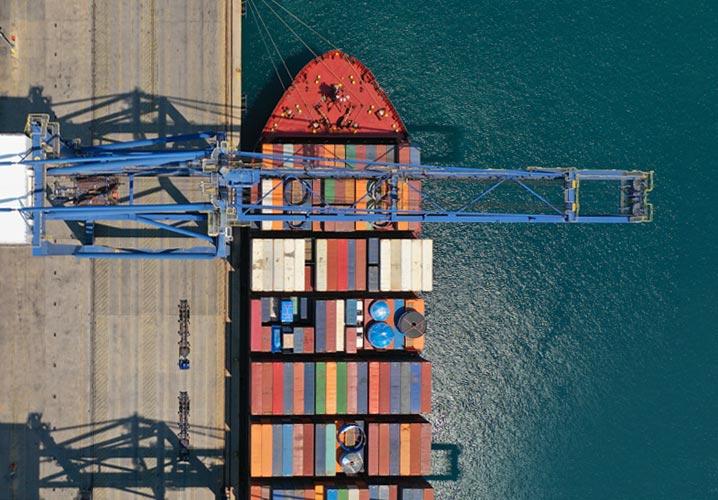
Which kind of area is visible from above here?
port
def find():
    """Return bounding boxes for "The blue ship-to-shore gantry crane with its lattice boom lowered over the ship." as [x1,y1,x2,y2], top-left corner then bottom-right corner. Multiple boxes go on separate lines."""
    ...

[0,110,654,260]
